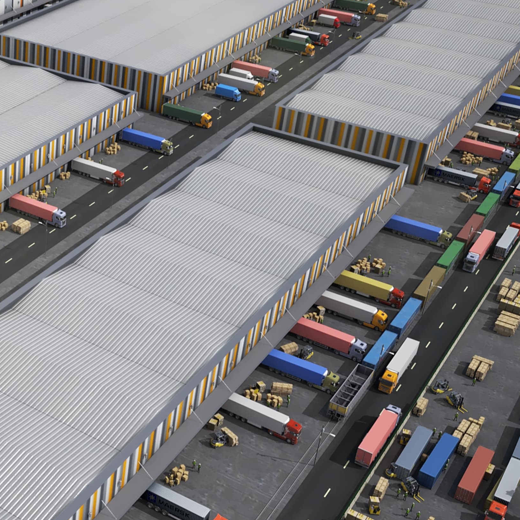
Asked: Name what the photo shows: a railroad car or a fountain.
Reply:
railroad car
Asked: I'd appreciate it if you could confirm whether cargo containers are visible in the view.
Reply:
Yes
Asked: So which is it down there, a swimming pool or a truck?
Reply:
truck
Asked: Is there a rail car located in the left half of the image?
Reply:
No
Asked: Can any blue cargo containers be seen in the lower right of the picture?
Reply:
Yes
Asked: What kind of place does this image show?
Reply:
industrial area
